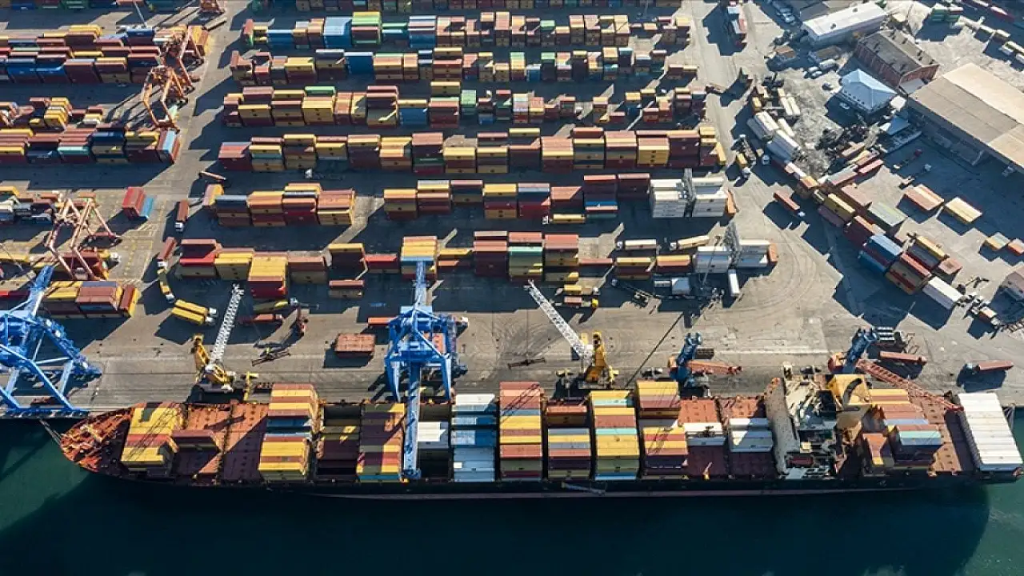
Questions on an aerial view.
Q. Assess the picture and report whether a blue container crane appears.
Yes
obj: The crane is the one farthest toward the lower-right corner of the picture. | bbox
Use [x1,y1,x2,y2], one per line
[822,329,969,442]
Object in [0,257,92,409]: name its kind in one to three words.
container crane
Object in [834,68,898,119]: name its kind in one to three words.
building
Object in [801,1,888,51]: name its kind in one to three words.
shed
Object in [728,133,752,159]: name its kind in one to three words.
work vehicle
